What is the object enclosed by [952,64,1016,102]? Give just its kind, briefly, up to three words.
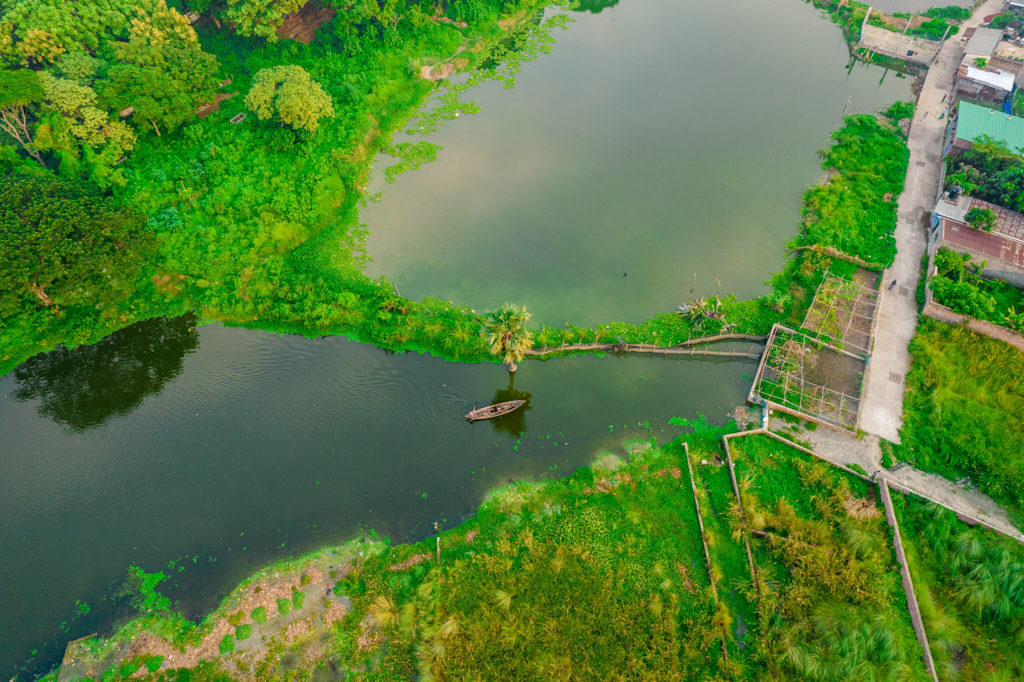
shed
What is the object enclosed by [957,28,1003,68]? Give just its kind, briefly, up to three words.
shed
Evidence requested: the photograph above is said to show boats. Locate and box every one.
[464,397,526,417]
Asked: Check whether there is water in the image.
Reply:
Yes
